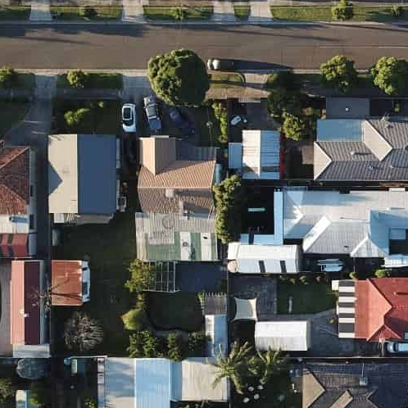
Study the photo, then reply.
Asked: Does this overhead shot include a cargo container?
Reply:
No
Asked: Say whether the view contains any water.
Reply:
No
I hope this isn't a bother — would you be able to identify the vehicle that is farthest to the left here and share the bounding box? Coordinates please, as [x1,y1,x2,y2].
[120,100,139,134]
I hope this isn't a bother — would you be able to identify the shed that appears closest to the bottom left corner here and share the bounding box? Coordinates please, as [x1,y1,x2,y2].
[17,388,44,408]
